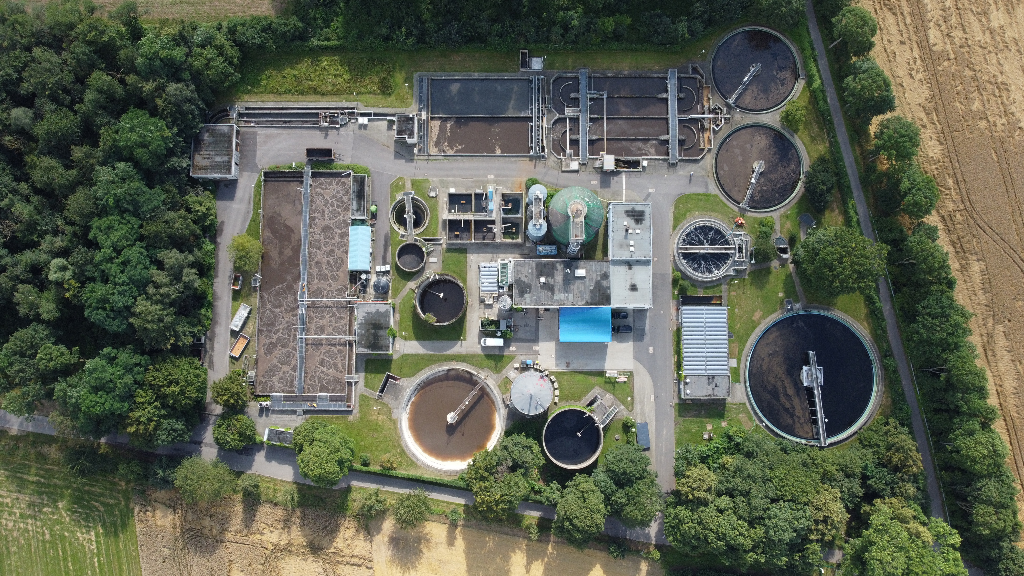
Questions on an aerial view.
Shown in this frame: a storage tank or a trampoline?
storage tank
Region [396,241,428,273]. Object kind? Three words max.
storage tank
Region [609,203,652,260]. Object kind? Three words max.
building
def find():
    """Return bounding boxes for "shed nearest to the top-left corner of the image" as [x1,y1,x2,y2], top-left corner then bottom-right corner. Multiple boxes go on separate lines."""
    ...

[190,114,240,178]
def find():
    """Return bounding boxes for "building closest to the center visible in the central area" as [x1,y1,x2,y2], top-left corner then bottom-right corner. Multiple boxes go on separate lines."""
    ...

[513,259,610,308]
